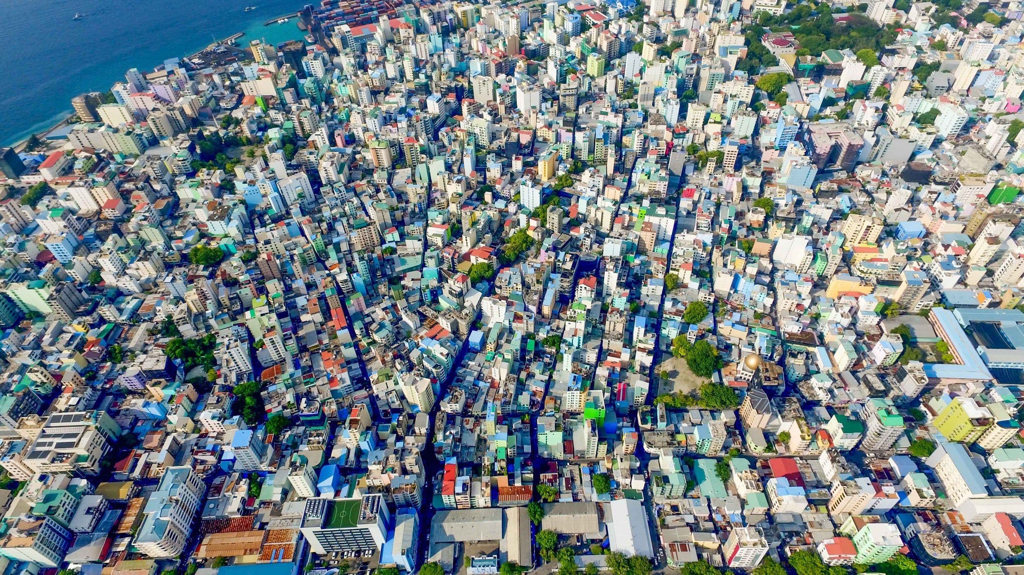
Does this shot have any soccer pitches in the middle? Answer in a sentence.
No, in the middle there is no soccer pitch.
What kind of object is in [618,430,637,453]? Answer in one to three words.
building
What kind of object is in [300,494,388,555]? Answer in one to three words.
building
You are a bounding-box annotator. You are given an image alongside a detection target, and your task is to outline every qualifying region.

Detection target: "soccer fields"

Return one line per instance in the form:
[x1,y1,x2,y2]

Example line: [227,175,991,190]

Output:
[323,498,362,526]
